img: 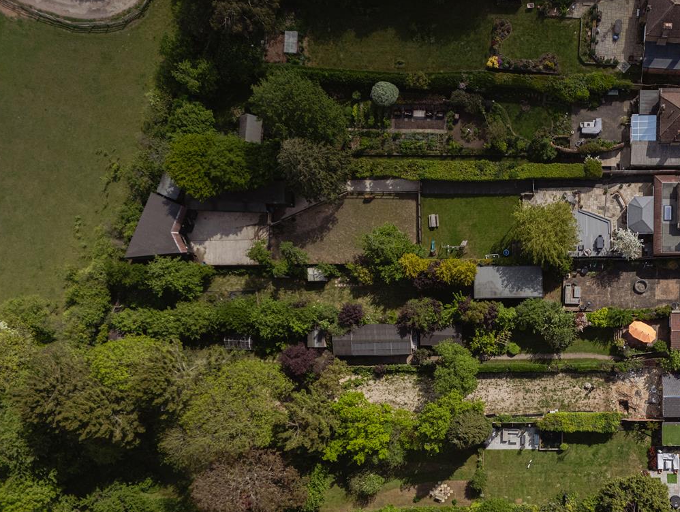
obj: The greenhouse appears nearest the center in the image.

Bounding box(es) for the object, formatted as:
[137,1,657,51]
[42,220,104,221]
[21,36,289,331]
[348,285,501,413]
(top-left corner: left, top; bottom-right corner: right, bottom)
[307,267,330,281]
